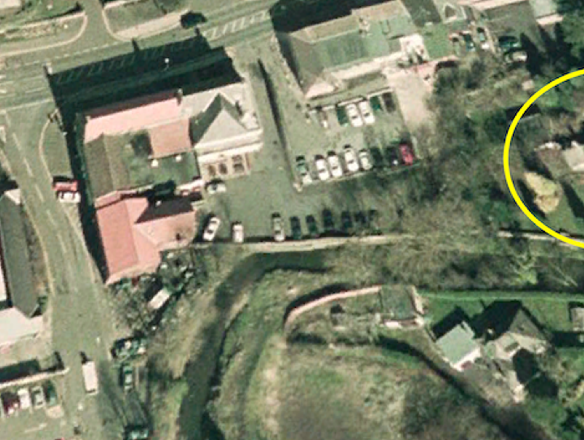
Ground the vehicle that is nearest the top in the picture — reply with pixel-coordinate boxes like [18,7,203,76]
[180,13,205,26]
